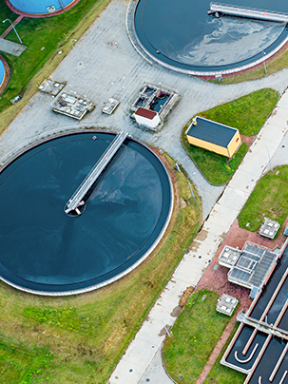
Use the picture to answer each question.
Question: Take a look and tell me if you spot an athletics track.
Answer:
No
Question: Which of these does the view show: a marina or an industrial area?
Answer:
industrial area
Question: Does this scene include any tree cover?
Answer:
No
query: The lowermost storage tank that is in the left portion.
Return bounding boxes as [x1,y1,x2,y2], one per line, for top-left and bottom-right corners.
[0,128,172,298]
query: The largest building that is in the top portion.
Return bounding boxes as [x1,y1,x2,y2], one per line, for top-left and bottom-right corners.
[185,114,245,158]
